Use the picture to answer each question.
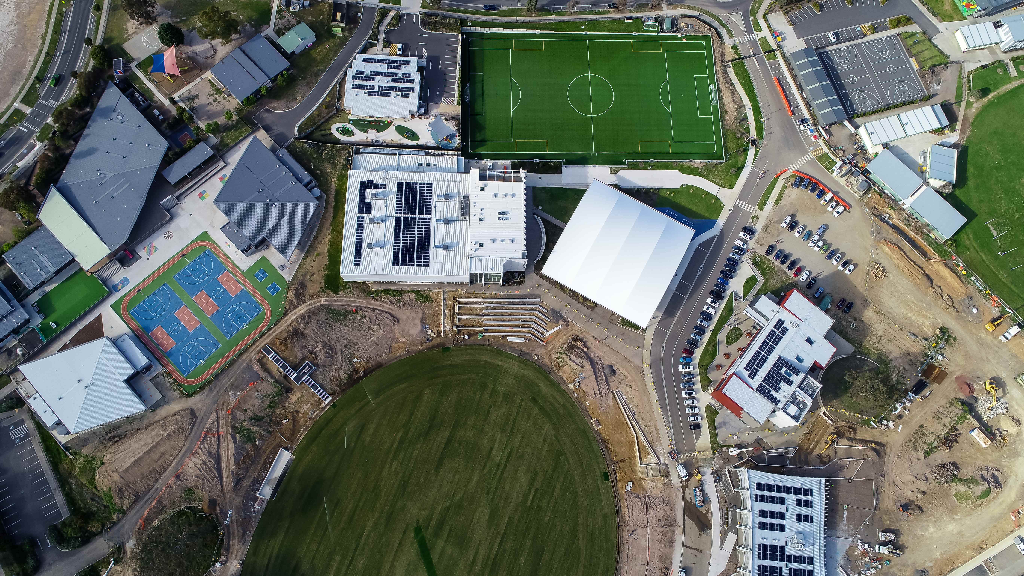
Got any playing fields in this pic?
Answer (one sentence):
Yes, this view includes a playing field.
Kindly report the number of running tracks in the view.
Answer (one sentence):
I count 1 running track.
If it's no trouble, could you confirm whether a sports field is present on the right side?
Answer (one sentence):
Yes, you'll find a sports field on the right side.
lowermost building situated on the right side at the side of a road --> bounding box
[727,468,831,576]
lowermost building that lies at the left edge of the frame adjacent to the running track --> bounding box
[17,334,153,433]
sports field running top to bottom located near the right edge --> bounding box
[956,81,1024,285]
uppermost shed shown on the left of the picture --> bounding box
[277,22,315,57]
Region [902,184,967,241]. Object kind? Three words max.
building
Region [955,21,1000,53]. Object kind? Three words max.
building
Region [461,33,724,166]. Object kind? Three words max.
sports field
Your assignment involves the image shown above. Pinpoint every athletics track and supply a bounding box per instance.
[120,240,271,385]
